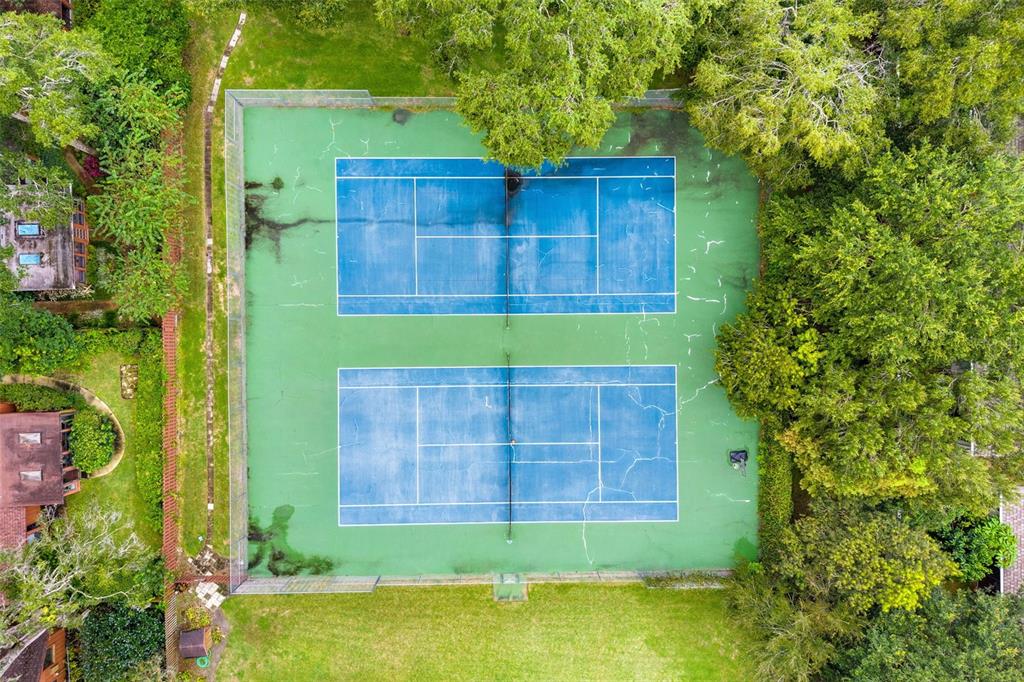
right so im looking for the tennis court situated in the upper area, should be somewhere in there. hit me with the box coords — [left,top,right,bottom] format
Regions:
[336,156,678,316]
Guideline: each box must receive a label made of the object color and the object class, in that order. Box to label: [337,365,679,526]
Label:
blue tennis court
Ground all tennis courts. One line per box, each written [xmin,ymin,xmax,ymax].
[337,365,679,526]
[336,156,678,316]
